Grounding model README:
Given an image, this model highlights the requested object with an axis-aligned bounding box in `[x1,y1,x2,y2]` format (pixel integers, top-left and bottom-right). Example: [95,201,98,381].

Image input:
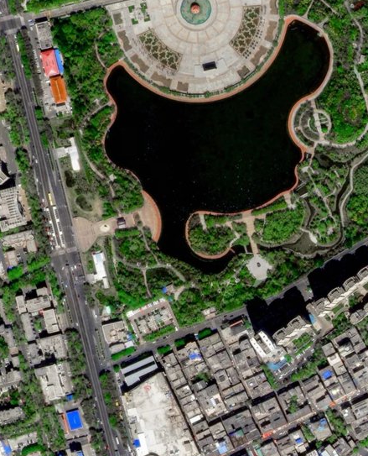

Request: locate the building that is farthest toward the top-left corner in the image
[36,21,54,51]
